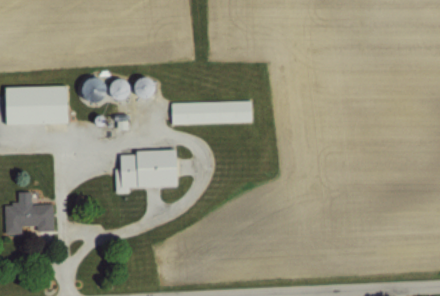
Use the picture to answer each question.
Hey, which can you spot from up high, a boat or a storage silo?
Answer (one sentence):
I can see a storage silo in this picture.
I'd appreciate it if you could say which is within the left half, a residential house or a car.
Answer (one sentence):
There is a residential house within the left half.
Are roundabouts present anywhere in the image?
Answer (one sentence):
No, the picture doesn't show any roundabout.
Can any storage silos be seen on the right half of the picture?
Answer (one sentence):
No, looking on the right half of the picture, there is no storage silo.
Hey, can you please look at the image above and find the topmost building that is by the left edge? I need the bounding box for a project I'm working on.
[5,86,69,126]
